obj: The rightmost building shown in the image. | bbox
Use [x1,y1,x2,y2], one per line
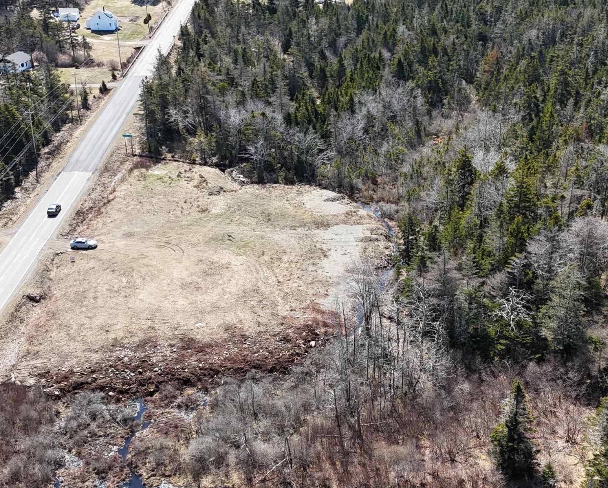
[86,0,124,31]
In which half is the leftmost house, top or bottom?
top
